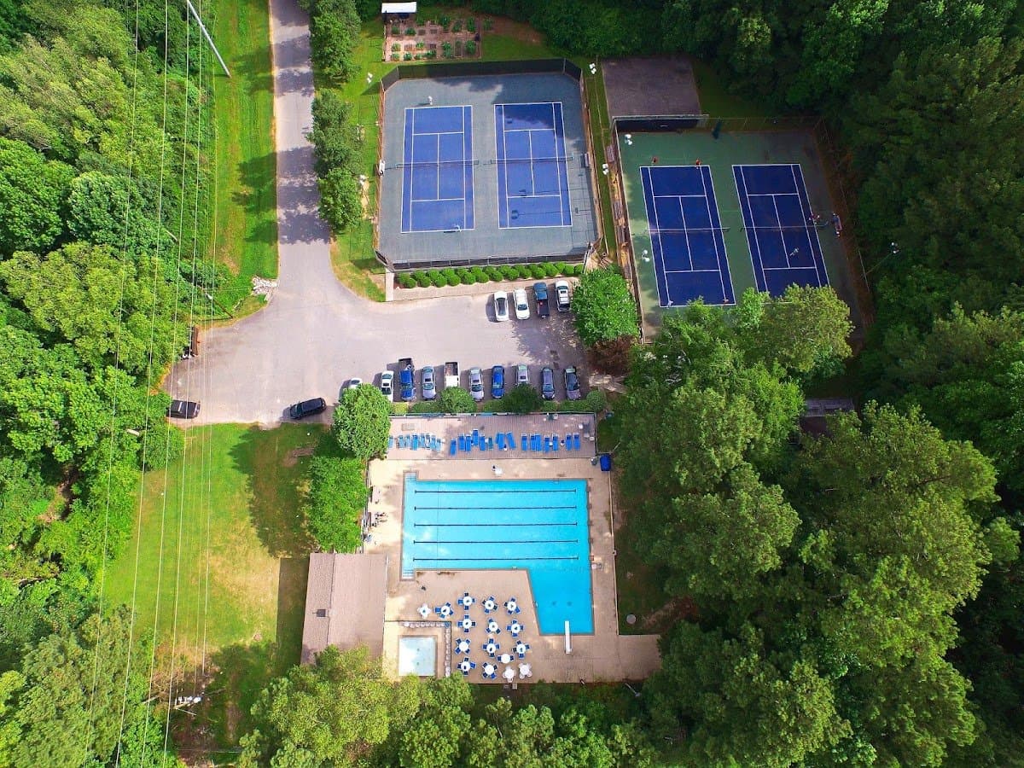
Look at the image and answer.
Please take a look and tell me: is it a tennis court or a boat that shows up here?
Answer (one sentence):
Visible in the photo is a tennis court.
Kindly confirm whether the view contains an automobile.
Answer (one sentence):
Yes, the image includes an automobile.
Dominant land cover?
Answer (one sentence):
Most of the picture is covered by trees.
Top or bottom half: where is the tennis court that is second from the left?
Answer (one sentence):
The top half of the photo is where the tennis court that is second from the left is.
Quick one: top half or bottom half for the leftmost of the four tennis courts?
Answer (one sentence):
The leftmost of the four tennis courts is in the top half of the image.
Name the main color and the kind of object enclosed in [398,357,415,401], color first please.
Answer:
blue vehicle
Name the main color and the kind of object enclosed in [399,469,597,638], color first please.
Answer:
blue swimming pool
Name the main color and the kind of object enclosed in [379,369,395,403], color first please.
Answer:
white car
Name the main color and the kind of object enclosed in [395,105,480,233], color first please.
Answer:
blue tennis court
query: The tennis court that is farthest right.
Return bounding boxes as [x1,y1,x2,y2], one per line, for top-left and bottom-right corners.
[731,163,832,301]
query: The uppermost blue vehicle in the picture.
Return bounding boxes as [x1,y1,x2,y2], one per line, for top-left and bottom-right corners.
[534,281,551,318]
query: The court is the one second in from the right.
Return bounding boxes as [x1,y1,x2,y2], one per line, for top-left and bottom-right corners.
[640,166,733,306]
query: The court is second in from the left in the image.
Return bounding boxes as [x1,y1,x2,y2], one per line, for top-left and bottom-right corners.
[490,102,574,229]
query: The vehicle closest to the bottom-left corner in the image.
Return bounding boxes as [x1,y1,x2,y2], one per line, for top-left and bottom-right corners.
[161,399,205,418]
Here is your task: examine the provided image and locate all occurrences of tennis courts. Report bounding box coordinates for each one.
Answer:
[395,105,480,233]
[731,163,832,301]
[490,102,574,229]
[640,166,733,306]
